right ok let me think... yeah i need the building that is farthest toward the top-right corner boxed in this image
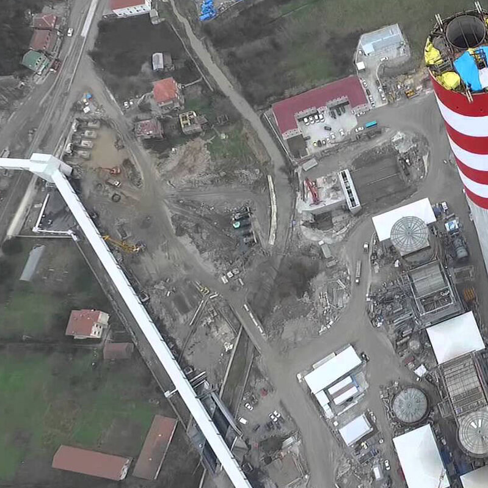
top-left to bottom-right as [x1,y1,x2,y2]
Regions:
[360,25,406,60]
